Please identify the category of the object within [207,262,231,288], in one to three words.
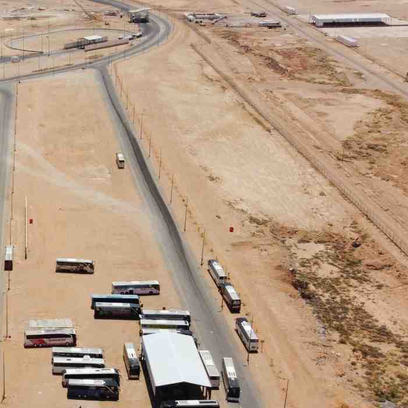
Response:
bus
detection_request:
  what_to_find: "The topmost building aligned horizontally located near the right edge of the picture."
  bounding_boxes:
[300,10,393,26]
